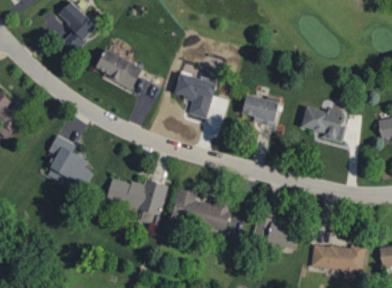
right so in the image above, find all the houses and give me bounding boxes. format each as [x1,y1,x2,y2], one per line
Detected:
[175,73,217,122]
[104,177,167,224]
[47,132,96,184]
[173,186,240,232]
[312,243,366,270]
[300,104,349,146]
[250,220,298,255]
[379,246,392,264]
[95,51,144,91]
[0,93,16,139]
[244,93,280,131]
[378,118,392,140]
